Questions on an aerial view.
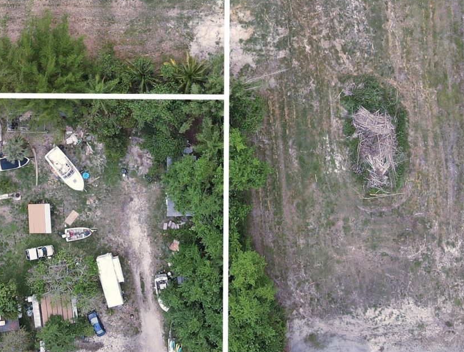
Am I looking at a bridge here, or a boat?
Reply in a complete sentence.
Visible in the photo is a boat.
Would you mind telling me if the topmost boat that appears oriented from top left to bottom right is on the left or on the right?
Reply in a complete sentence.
You can find the topmost boat that appears oriented from top left to bottom right on the left side of the picture.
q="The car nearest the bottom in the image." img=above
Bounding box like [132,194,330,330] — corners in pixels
[87,309,106,337]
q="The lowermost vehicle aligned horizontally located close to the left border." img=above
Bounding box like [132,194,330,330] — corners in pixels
[22,244,57,260]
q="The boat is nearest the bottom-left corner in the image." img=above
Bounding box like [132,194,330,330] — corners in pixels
[61,229,99,242]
